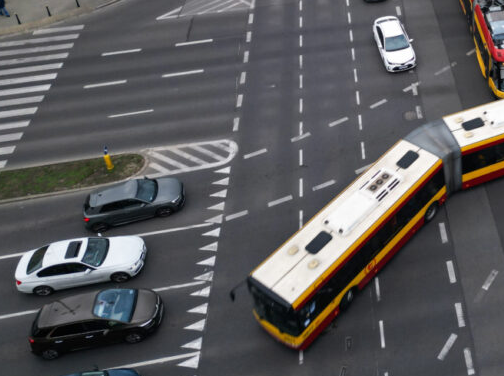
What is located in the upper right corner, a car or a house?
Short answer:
car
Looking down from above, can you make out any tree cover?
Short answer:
No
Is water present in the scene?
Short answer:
No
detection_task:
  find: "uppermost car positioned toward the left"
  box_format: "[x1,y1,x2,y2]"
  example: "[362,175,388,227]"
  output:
[84,175,186,229]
